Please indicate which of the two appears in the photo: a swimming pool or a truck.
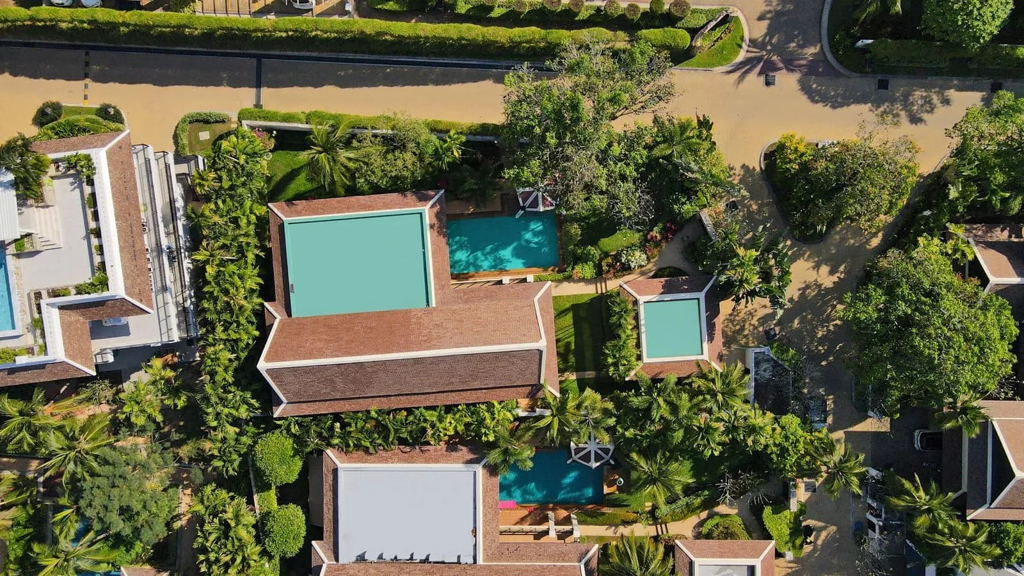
swimming pool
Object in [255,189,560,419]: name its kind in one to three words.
house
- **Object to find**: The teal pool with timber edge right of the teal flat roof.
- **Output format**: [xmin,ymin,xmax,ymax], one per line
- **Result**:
[446,209,562,277]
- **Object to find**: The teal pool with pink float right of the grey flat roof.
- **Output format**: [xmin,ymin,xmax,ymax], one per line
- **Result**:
[497,445,605,505]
